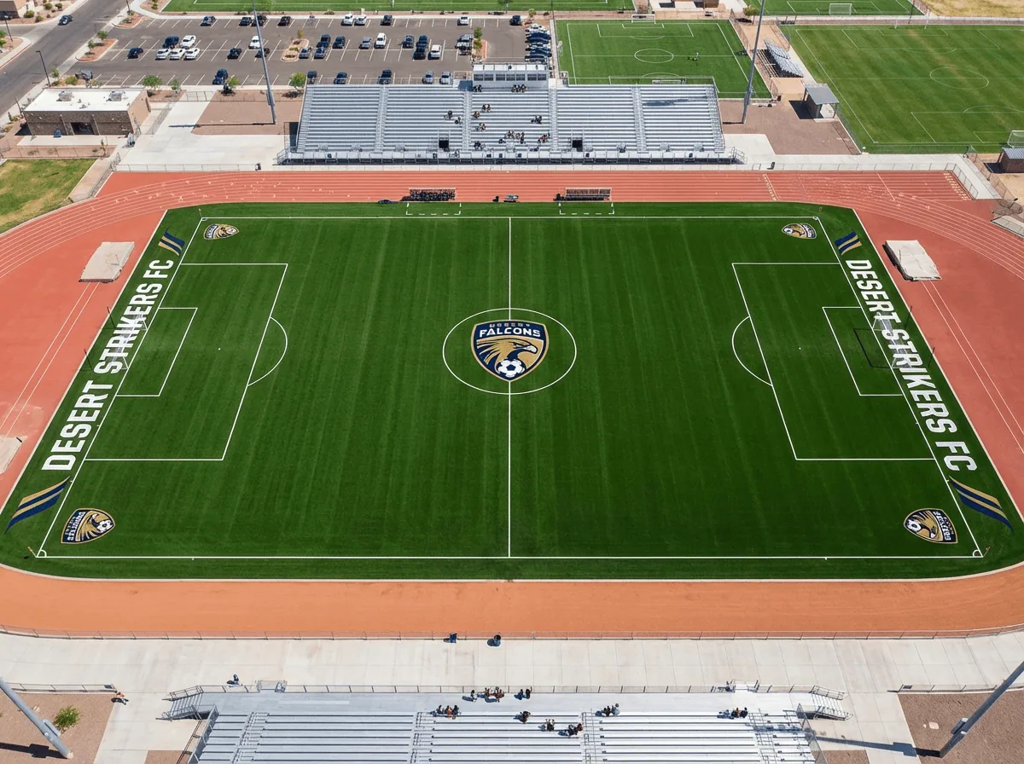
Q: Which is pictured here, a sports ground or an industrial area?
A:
sports ground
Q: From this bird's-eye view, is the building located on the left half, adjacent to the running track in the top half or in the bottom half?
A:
top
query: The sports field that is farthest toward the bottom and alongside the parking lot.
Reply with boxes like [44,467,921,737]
[0,203,1024,578]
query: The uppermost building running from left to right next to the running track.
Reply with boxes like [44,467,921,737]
[21,88,151,136]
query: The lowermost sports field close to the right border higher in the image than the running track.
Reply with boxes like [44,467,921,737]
[782,24,1024,153]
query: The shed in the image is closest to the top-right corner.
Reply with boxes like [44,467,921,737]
[993,141,1024,169]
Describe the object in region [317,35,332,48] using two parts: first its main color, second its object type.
black vehicle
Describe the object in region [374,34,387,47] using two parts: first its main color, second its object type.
white vehicle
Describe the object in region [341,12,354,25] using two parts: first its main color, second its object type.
white vehicle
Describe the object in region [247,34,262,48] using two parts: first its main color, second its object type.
white car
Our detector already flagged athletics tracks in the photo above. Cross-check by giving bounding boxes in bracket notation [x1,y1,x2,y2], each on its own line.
[0,170,1024,519]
